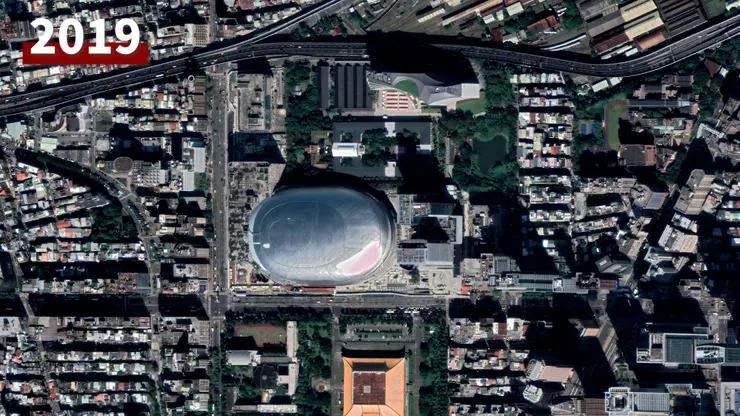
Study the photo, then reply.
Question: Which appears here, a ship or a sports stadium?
sports stadium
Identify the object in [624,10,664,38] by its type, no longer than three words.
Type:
building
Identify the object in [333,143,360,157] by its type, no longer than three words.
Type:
building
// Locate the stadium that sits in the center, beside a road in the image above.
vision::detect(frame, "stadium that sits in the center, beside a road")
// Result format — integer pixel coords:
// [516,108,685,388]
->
[248,187,407,290]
